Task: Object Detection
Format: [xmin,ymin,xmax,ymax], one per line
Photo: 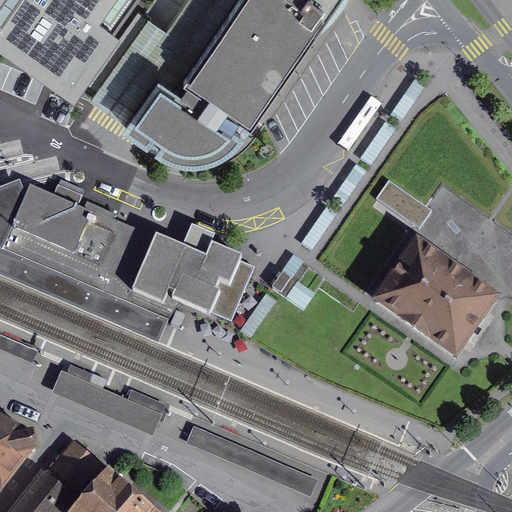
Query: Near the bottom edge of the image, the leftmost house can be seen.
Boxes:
[0,408,38,492]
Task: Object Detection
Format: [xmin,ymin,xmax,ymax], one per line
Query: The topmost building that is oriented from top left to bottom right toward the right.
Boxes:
[376,181,432,230]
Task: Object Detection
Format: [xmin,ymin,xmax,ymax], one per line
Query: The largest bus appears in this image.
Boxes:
[338,94,384,152]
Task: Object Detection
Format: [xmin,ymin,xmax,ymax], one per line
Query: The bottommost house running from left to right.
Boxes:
[66,465,164,512]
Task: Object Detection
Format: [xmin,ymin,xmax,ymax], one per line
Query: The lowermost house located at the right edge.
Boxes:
[372,234,501,358]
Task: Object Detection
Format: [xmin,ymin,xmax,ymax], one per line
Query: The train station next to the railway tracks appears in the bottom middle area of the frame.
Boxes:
[0,276,438,489]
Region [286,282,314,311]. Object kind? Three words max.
house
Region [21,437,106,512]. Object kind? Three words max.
house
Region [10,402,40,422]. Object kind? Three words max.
vehicle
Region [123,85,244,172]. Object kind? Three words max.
building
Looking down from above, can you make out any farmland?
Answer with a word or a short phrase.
No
